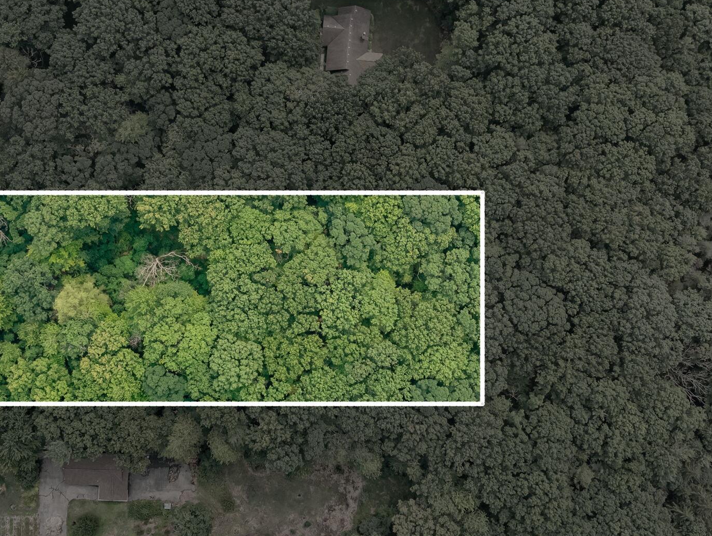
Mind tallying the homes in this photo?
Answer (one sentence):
Looking from above, you can make out 2 homes.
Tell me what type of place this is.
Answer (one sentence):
This looks like a forest.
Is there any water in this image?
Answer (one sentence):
No, water can't be seen anywhere here.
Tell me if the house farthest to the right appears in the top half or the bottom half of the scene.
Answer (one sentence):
You can find the house farthest to the right in the top half.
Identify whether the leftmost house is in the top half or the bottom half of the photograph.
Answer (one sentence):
You can find the leftmost house in the bottom half.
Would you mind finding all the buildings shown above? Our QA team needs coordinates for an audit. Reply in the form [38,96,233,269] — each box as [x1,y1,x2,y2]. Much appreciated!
[62,455,129,503]
[321,5,383,94]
